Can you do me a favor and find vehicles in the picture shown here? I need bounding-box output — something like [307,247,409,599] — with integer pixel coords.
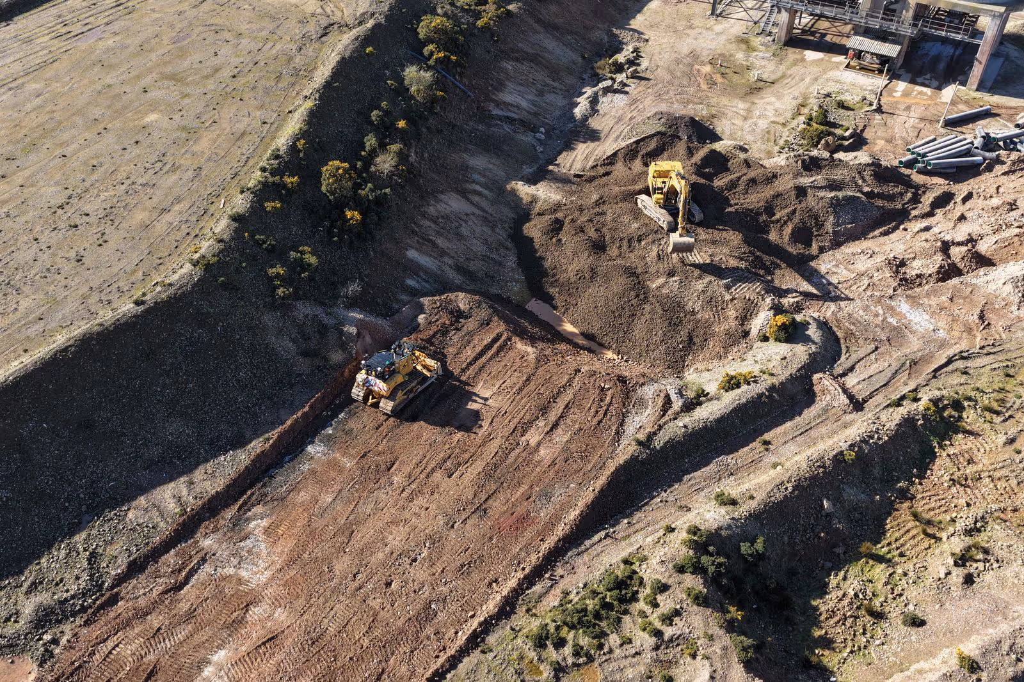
[357,337,450,414]
[634,158,708,255]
